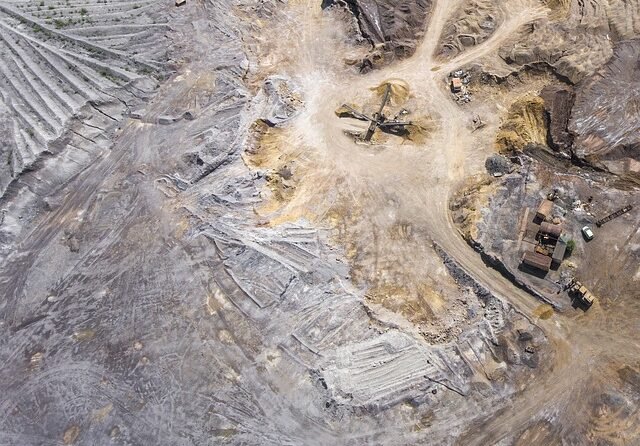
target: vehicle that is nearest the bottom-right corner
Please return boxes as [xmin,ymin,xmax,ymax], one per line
[569,279,599,306]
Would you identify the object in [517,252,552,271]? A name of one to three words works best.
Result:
shed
